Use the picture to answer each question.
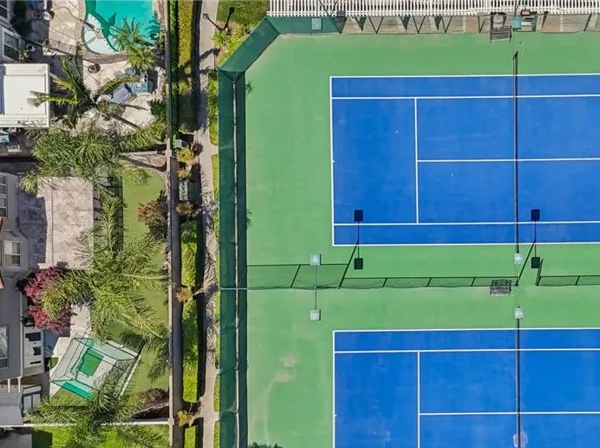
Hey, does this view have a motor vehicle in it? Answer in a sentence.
No, the frame has no motor vehicle in it.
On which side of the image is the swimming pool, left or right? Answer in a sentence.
It is on the left.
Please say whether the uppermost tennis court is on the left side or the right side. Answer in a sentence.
It is on the right.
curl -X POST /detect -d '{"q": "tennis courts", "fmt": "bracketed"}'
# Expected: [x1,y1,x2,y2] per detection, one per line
[330,72,600,246]
[333,328,600,448]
